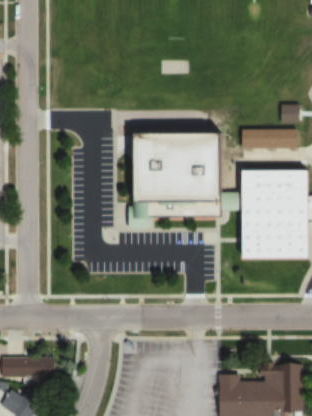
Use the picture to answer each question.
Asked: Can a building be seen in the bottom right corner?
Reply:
Yes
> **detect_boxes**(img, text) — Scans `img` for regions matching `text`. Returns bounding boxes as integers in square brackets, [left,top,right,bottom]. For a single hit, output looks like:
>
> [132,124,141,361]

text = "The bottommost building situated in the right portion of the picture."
[219,364,304,416]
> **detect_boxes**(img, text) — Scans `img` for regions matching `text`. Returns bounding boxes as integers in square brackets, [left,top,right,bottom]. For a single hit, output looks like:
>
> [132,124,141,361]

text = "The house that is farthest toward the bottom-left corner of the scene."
[0,382,37,416]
